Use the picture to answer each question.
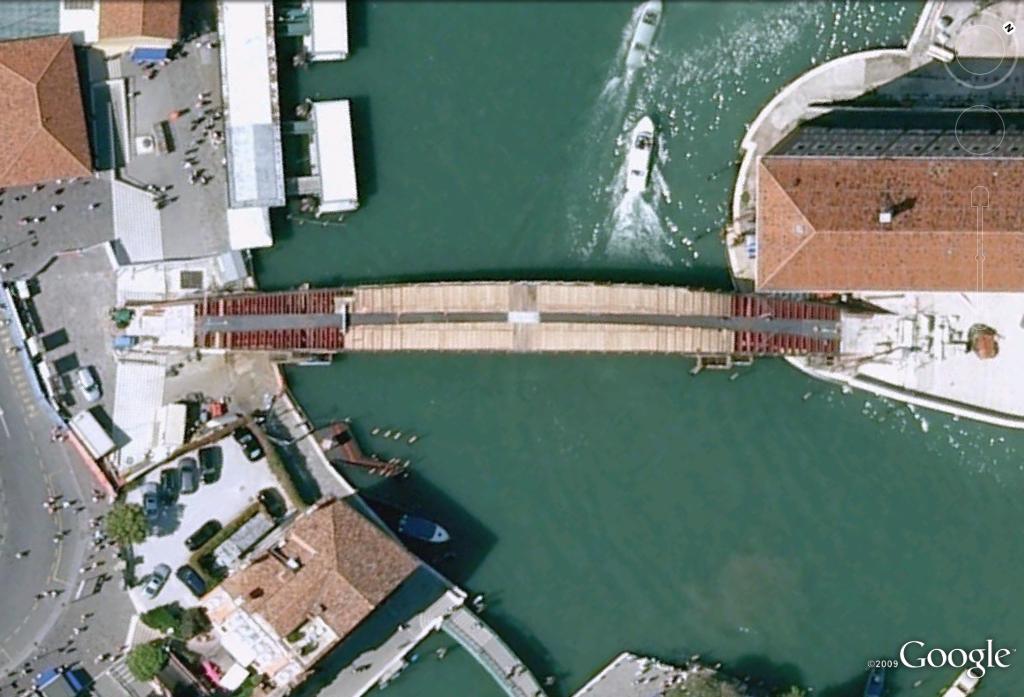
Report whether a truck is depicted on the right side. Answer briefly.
No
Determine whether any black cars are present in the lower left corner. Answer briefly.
Yes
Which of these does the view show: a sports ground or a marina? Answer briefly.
marina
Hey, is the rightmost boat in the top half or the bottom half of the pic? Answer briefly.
bottom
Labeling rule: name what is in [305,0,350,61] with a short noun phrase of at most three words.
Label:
pier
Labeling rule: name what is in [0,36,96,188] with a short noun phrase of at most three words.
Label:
house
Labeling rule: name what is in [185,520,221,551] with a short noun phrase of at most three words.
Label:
car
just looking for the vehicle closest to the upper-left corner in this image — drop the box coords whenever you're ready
[112,336,138,349]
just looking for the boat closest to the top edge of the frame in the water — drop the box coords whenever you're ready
[625,0,661,70]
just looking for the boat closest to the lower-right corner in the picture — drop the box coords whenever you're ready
[947,667,981,697]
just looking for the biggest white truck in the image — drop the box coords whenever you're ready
[72,411,119,466]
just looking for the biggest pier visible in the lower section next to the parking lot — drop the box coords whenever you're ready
[318,421,404,476]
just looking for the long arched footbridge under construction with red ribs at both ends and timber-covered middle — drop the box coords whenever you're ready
[190,279,846,356]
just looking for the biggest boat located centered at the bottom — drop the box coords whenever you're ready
[396,514,448,540]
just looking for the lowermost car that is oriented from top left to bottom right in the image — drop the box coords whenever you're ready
[175,563,206,599]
